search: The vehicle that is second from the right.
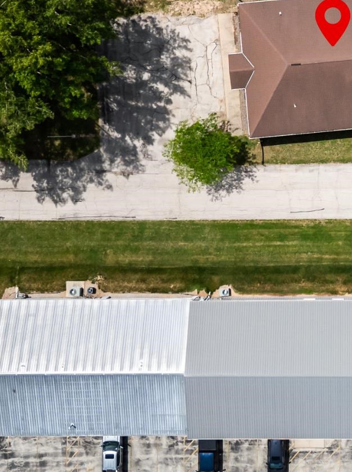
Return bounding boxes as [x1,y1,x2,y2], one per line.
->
[201,440,222,472]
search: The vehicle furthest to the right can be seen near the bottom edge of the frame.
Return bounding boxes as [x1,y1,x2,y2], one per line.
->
[265,440,290,472]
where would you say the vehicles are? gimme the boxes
[265,440,290,472]
[99,438,124,472]
[201,440,222,472]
